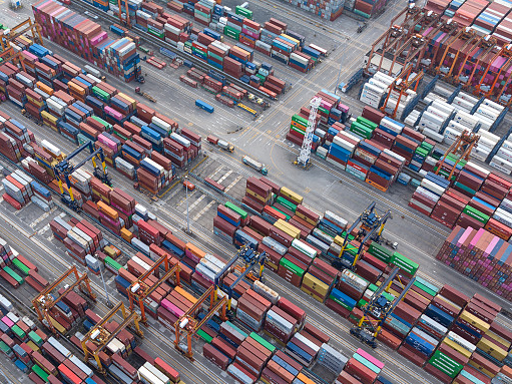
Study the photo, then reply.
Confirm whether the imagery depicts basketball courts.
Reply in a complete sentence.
No, the scene contains no basketball court.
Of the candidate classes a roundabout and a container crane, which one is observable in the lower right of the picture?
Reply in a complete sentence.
The feature located in the lower right of the picture is a container crane.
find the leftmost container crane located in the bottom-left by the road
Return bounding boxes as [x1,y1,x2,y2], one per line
[30,264,99,337]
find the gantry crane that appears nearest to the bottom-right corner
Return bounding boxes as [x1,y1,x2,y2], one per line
[349,268,417,348]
